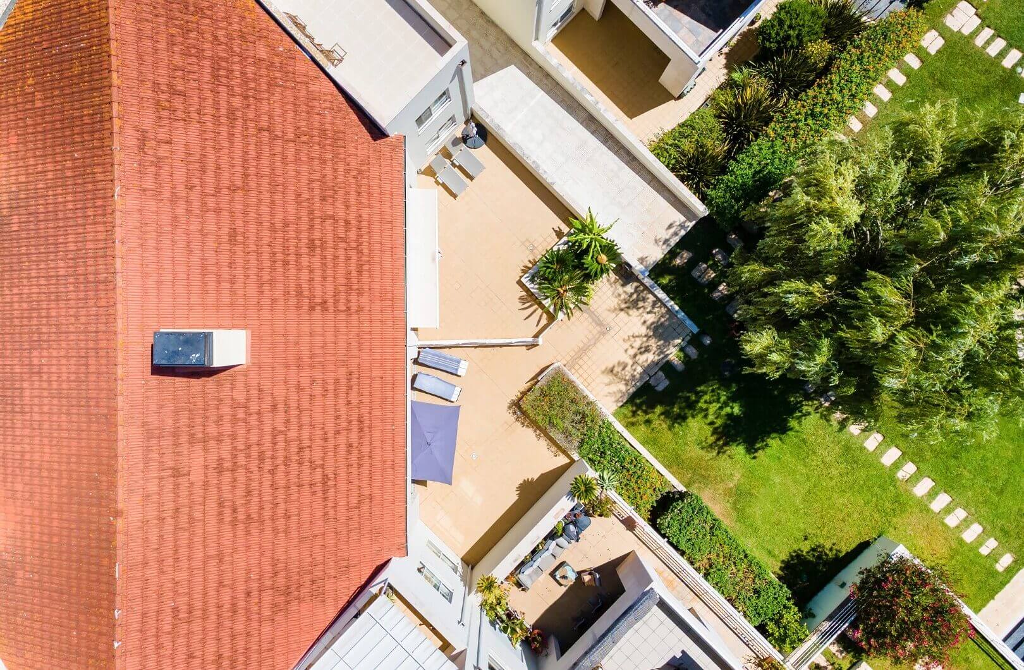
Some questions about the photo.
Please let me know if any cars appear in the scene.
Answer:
No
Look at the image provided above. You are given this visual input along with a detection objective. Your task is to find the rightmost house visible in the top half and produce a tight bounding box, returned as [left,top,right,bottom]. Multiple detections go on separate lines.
[612,0,771,97]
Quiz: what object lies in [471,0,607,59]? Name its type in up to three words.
house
